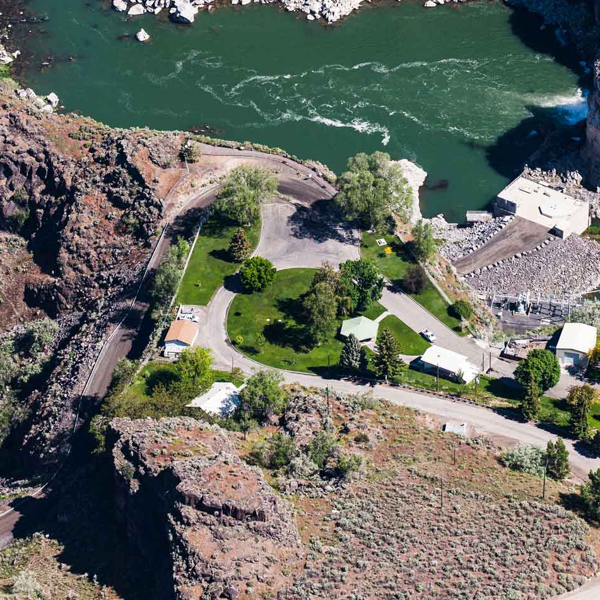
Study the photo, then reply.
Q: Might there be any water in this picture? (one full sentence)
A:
Yes, there's water in this view.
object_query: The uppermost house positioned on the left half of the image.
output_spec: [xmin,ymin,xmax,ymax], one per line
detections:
[163,322,200,359]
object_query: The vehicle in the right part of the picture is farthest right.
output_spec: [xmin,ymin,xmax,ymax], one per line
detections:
[418,329,439,342]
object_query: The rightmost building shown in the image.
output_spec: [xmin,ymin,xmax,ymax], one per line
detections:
[556,321,593,366]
